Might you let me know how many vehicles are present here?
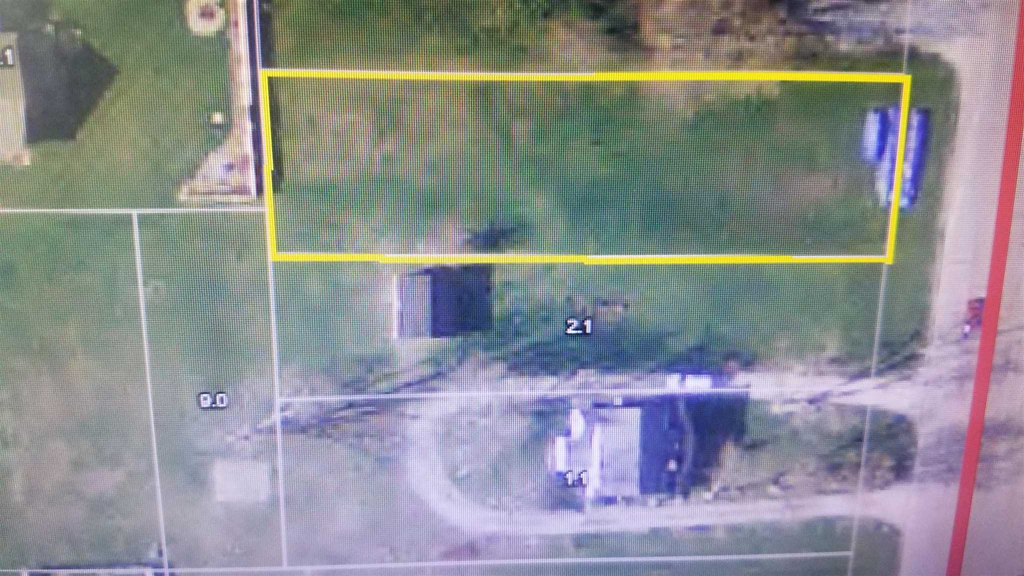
two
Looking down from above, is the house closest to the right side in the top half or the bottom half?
bottom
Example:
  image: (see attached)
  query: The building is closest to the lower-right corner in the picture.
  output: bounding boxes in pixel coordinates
[549,400,694,514]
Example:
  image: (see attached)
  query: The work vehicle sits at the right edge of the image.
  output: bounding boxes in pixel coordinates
[962,298,983,342]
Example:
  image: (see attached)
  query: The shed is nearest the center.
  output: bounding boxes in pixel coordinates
[394,274,470,339]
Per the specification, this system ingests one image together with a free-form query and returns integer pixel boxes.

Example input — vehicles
[962,298,983,342]
[665,371,729,394]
